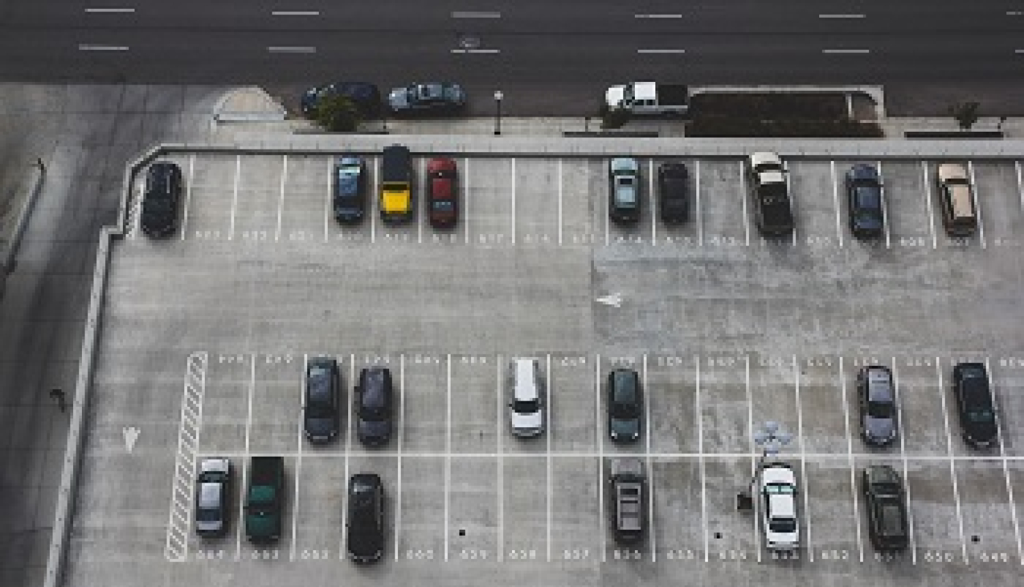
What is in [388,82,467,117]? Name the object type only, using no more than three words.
car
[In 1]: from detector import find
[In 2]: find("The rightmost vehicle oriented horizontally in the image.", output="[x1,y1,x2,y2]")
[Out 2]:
[605,79,690,117]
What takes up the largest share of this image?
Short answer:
buildings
